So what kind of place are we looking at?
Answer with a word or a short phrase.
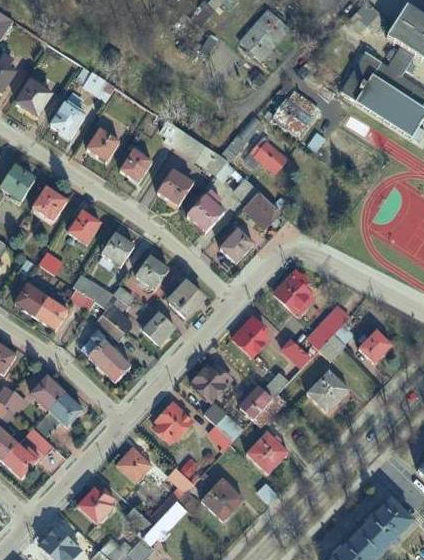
residential area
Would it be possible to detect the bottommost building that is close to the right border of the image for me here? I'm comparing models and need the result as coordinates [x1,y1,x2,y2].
[329,494,415,560]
